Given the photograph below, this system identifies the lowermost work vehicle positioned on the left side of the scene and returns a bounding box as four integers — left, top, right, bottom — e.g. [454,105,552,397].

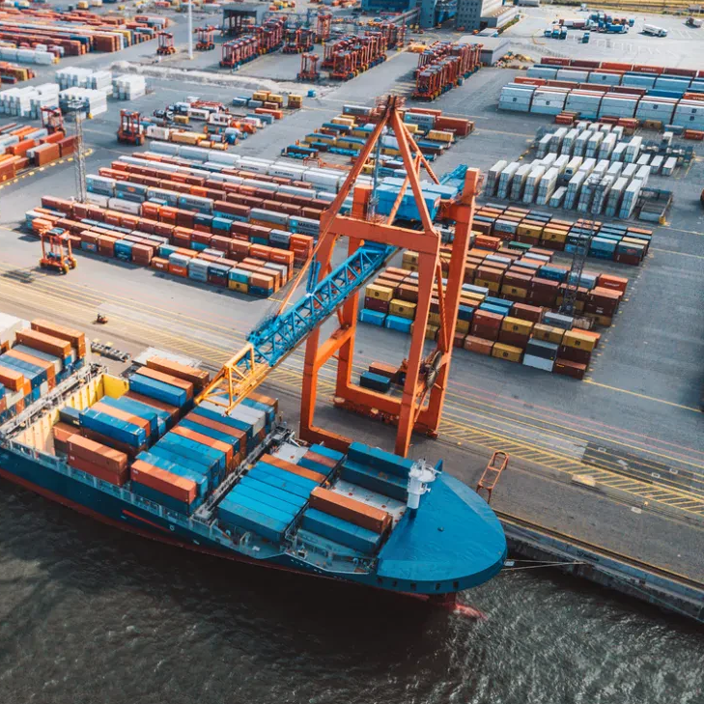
[93,309,109,323]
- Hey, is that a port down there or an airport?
port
